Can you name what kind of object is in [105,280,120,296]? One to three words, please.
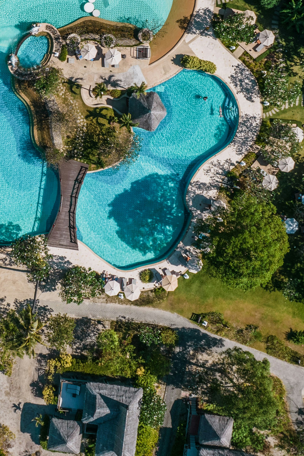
umbrella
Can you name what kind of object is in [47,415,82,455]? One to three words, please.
house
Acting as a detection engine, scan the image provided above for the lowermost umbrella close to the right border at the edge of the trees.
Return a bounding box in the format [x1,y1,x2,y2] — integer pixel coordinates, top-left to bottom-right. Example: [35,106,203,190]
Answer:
[283,219,298,233]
